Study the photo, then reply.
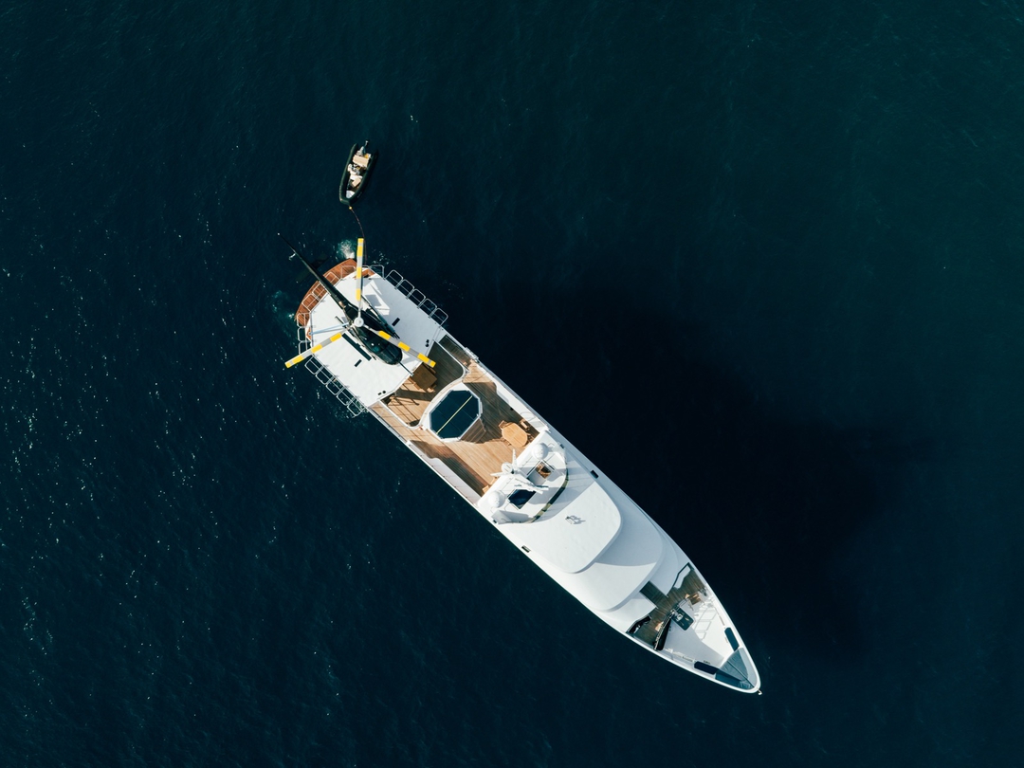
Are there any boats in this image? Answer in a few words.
Yes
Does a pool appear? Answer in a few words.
No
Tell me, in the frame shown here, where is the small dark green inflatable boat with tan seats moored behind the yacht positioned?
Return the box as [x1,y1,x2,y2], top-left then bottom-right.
[339,141,378,205]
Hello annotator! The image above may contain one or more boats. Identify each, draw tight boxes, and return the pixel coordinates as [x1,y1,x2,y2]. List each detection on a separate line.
[294,257,762,693]
[339,141,378,205]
